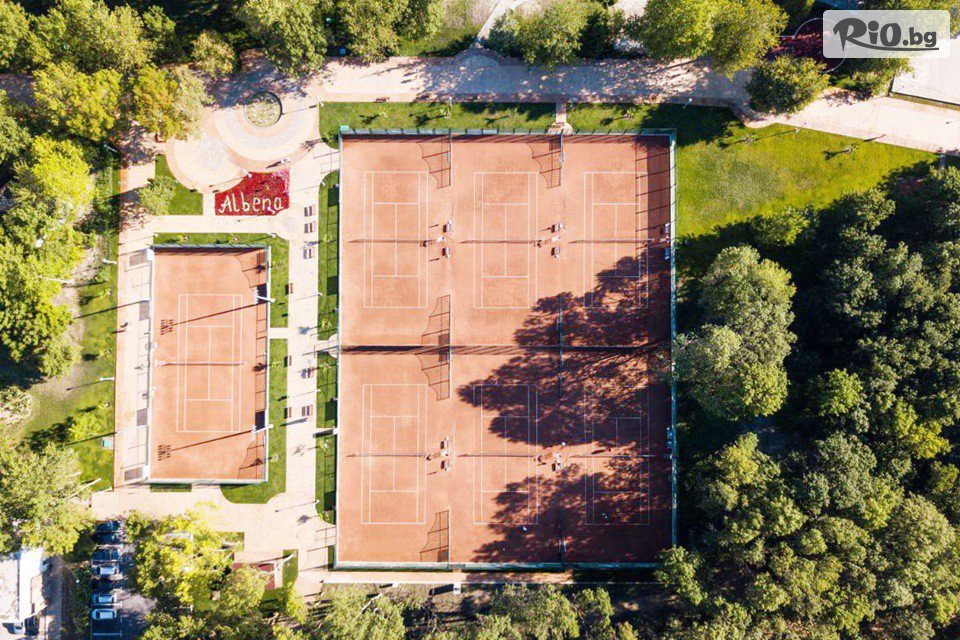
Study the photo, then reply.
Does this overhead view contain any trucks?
No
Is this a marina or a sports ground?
sports ground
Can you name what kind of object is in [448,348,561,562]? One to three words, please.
tennis court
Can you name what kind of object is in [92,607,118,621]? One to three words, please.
car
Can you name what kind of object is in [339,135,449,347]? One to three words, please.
tennis court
